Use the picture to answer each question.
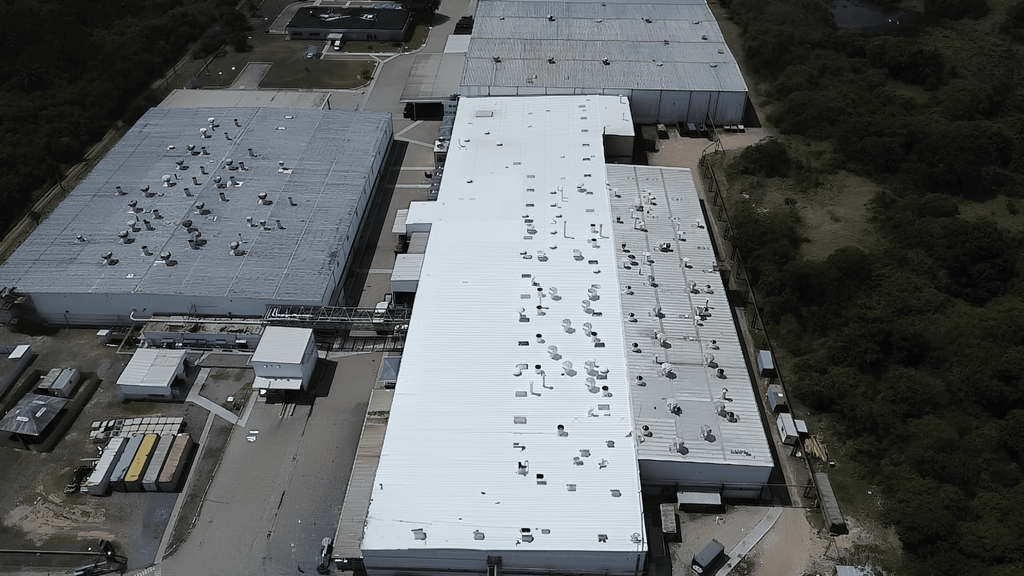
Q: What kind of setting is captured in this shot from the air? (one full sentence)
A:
It's an industrial area.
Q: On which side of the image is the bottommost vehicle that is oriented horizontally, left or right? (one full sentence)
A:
You can find the bottommost vehicle that is oriented horizontally on the left side of the picture.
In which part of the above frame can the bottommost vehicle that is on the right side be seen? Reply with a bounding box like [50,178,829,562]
[692,537,726,576]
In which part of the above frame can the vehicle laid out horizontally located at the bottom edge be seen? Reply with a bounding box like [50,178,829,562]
[74,553,125,576]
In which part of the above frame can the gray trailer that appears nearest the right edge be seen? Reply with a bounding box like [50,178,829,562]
[814,473,845,534]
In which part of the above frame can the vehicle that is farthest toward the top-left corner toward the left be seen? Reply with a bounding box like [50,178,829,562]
[306,43,319,57]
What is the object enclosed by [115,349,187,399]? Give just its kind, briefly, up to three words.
shed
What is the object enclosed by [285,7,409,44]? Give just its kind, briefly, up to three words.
building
